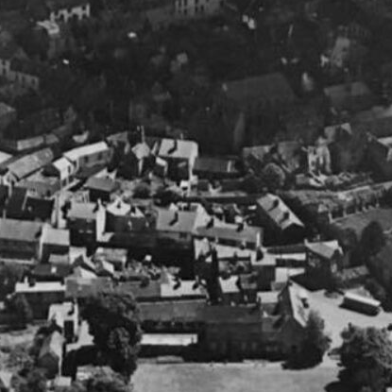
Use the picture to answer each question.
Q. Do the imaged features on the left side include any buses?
No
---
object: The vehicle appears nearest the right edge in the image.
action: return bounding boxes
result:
[343,286,383,311]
